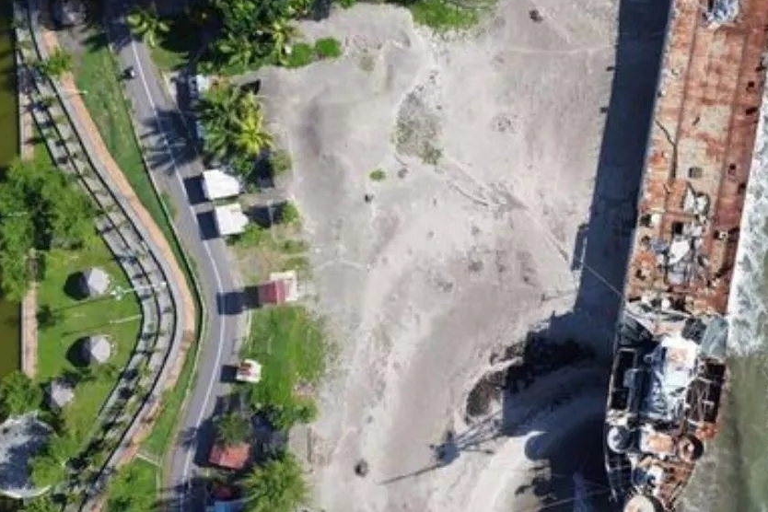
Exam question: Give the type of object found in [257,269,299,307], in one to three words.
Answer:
shed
